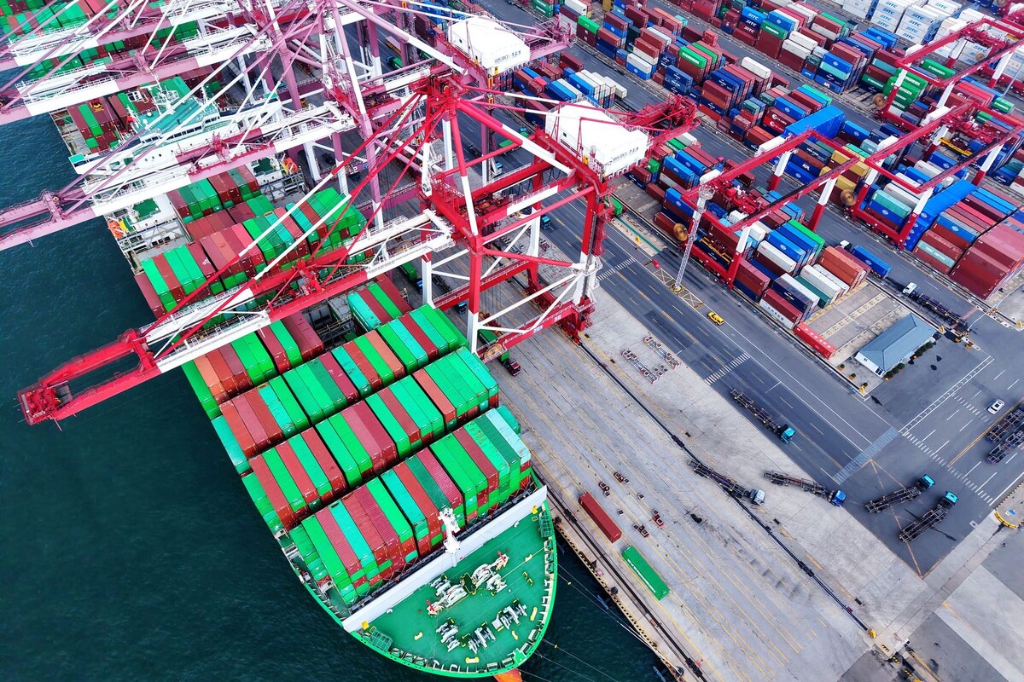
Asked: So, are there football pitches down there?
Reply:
No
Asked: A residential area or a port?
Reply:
port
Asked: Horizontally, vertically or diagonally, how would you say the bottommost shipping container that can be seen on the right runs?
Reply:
diagonally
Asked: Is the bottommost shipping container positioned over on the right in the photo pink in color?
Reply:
No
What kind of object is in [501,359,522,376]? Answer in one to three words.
vehicle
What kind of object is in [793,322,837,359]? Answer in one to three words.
shipping container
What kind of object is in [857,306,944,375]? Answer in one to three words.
building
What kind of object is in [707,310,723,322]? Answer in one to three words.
vehicle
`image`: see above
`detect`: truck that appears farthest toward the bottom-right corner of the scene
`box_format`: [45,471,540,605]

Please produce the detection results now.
[906,491,963,537]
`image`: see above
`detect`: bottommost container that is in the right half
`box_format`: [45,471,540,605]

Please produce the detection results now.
[622,547,670,602]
